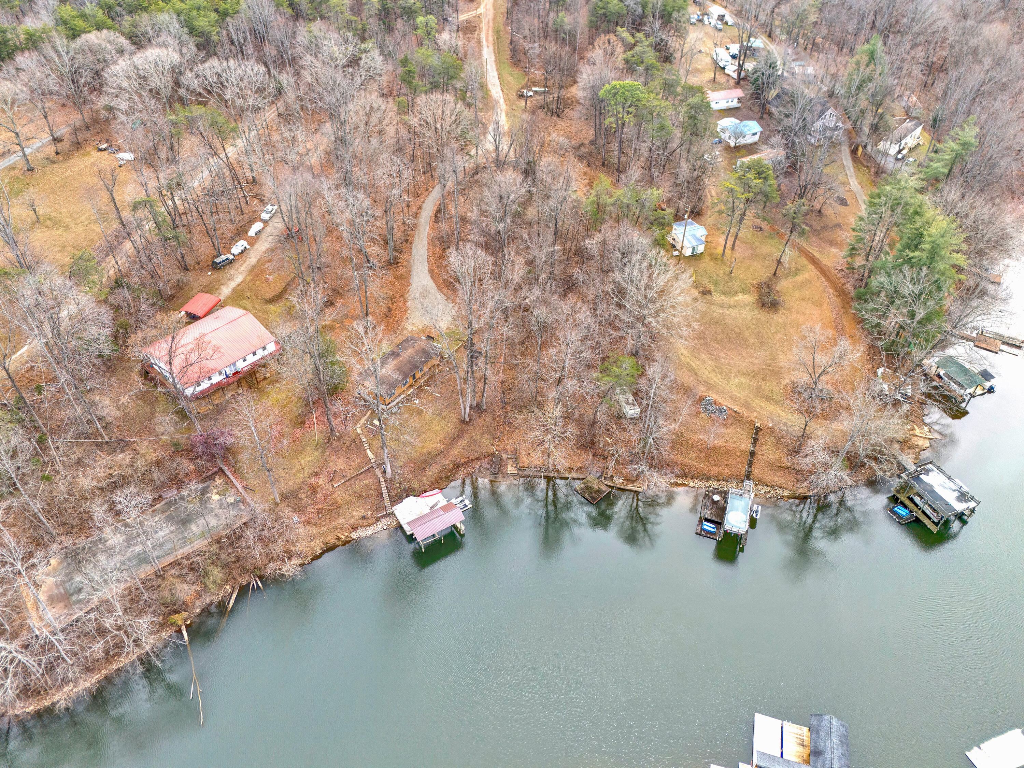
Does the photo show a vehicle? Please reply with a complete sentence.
Yes, a vehicle is visible in the scene.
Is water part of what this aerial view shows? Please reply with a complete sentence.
Yes, water can be seen from above here.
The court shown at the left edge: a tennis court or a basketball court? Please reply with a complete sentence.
From above, the court shown at the left edge can be identified as a tennis court.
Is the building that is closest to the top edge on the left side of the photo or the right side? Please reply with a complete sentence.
The building that is closest to the top edge appears in the right half of the scene.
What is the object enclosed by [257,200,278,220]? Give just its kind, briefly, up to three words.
vehicle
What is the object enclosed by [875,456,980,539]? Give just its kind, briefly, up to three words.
pier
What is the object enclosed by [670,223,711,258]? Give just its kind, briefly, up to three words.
house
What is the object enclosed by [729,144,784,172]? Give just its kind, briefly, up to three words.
house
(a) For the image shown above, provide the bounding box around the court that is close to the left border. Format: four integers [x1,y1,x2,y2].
[40,477,250,620]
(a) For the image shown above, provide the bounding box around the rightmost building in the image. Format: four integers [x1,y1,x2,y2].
[920,356,987,401]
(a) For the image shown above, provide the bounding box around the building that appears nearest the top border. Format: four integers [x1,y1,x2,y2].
[708,5,730,27]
